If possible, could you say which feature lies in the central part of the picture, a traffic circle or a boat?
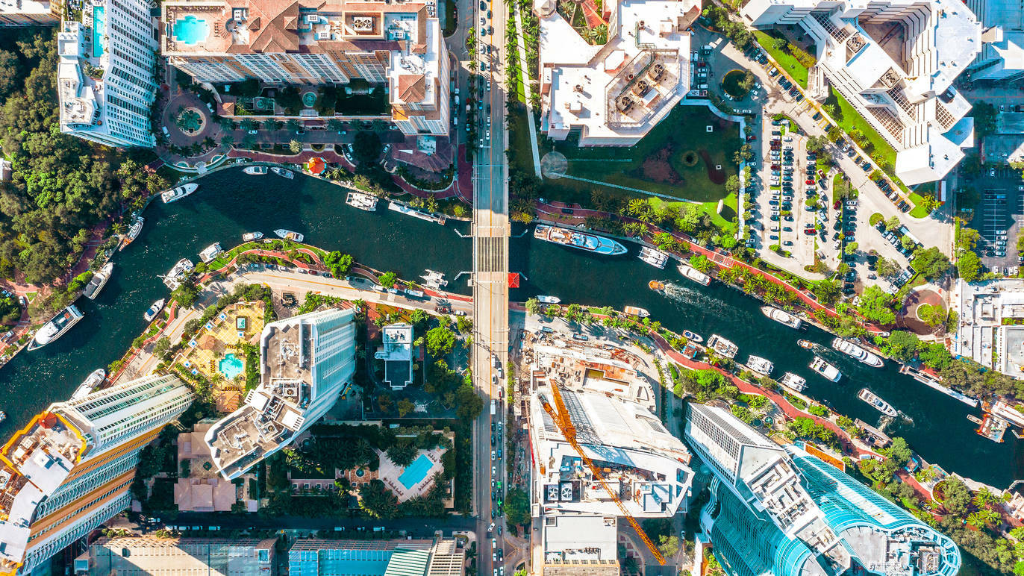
boat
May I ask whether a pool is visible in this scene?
Yes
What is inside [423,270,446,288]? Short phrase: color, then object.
white boat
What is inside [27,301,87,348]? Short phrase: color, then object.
white boat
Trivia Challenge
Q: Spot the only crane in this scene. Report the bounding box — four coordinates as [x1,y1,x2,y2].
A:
[544,371,668,569]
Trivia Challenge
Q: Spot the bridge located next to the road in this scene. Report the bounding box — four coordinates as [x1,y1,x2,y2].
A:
[467,0,511,576]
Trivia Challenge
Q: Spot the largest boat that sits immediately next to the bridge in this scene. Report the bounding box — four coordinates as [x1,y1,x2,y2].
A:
[532,222,629,252]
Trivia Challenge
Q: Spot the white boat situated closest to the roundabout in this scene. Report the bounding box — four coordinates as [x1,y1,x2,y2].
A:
[831,336,884,364]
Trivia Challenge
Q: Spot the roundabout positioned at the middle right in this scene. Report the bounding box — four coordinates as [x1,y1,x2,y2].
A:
[901,288,946,333]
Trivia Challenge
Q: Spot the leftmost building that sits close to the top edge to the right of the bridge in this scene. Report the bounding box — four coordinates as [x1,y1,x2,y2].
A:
[531,0,702,143]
